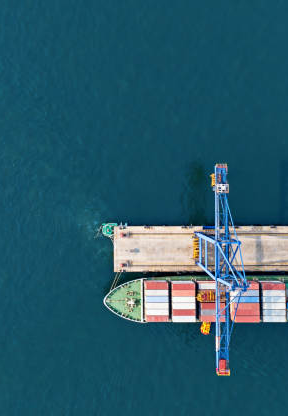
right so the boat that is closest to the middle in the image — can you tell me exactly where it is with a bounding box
[103,224,119,237]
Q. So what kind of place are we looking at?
port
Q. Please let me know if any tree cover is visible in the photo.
No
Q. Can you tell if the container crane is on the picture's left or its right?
right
